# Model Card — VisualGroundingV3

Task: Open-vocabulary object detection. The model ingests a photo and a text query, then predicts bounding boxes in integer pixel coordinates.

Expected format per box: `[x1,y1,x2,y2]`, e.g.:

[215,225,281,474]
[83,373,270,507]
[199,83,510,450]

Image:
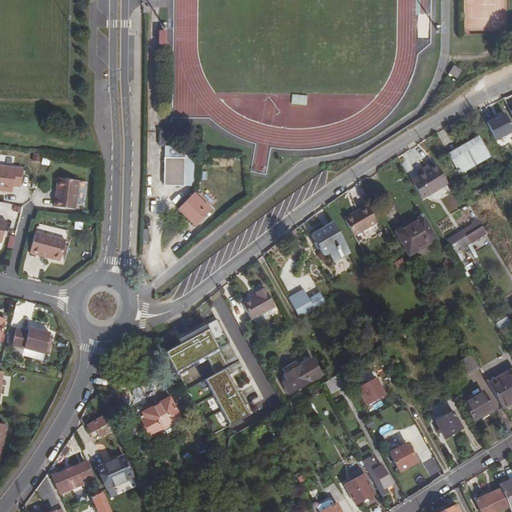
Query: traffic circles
[36,256,172,355]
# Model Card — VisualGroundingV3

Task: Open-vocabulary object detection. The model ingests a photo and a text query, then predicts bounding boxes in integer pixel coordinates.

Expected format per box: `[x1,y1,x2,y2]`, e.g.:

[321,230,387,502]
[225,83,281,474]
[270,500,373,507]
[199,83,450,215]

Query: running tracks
[174,0,430,173]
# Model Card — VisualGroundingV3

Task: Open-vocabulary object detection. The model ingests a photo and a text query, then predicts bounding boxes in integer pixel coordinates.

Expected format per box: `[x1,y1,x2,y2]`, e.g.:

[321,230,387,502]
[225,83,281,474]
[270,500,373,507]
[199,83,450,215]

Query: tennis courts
[464,0,507,32]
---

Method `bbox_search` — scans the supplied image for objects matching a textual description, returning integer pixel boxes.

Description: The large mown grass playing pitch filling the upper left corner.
[0,0,68,98]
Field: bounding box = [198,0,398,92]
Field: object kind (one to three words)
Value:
sports field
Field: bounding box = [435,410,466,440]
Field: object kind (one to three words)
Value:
house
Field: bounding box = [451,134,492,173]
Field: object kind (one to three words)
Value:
barn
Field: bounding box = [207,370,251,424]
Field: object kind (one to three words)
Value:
building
